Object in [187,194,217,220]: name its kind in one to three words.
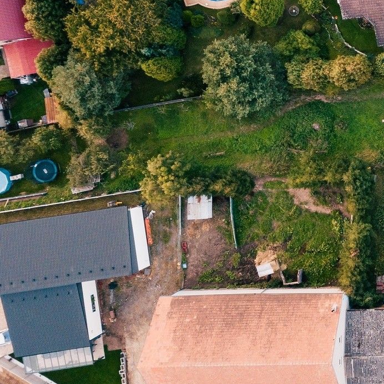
shed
